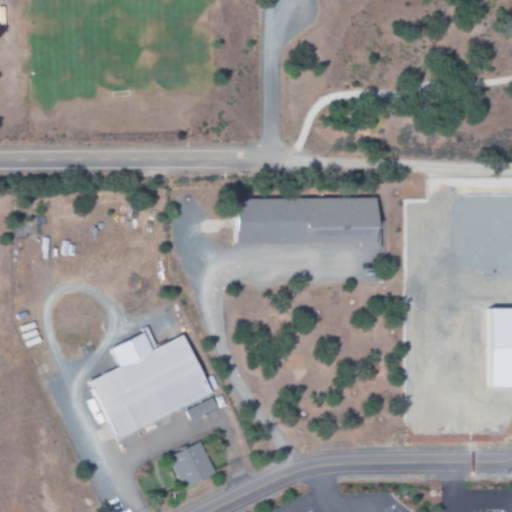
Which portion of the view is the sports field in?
top left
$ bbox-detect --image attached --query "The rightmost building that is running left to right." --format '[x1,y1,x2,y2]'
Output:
[237,197,382,244]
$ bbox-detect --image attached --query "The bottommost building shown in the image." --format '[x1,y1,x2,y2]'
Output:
[174,441,216,488]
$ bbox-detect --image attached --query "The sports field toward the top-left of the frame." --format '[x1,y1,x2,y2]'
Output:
[26,0,214,114]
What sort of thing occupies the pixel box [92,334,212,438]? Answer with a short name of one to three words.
building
